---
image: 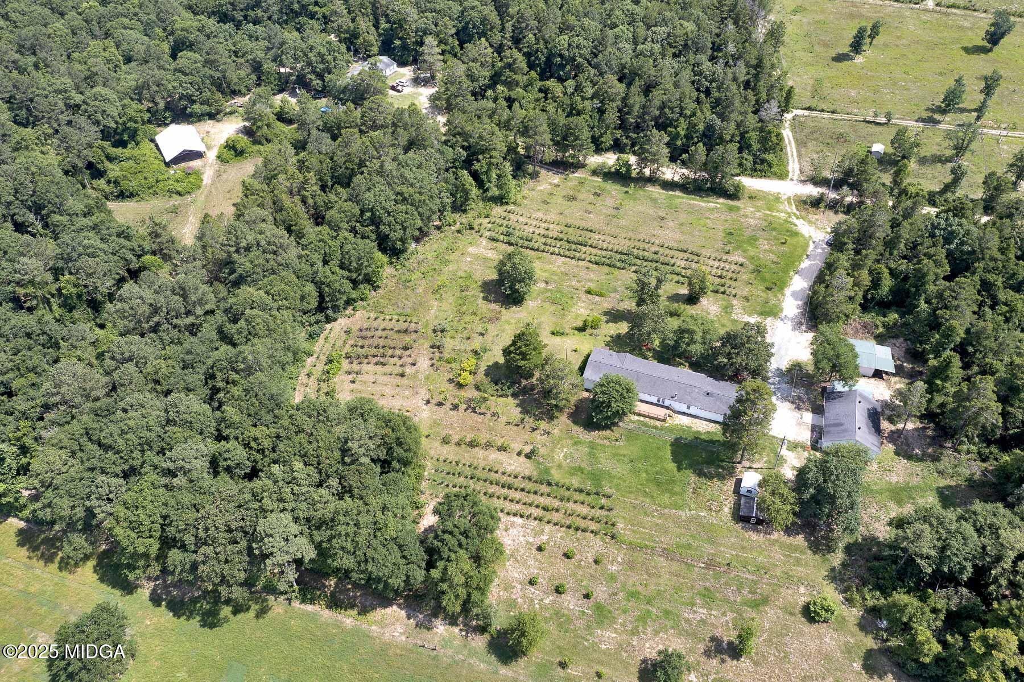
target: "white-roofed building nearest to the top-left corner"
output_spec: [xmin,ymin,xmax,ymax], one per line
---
[152,125,209,170]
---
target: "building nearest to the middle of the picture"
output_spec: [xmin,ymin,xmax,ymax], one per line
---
[583,350,738,425]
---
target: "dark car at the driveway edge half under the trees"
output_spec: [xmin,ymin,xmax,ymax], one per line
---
[825,230,841,247]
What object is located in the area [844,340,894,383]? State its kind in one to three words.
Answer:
shed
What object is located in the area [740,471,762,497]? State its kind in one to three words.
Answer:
shed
